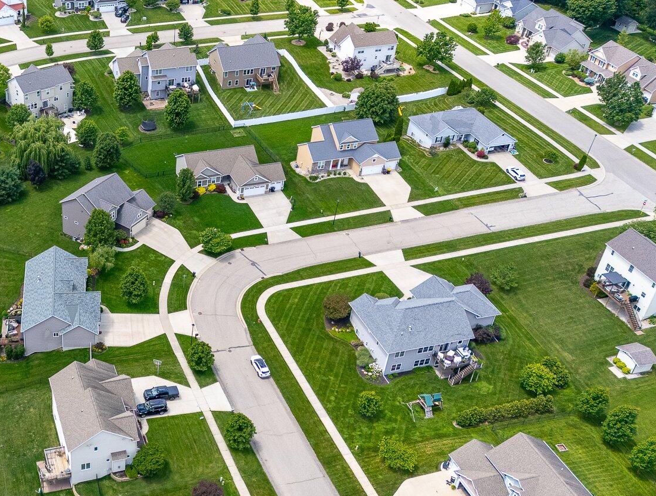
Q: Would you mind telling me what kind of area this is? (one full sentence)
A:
It's a residential area.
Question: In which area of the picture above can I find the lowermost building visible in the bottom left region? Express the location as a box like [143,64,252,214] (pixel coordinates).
[42,359,144,488]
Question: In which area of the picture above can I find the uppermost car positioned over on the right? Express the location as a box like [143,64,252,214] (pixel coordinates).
[505,166,529,181]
